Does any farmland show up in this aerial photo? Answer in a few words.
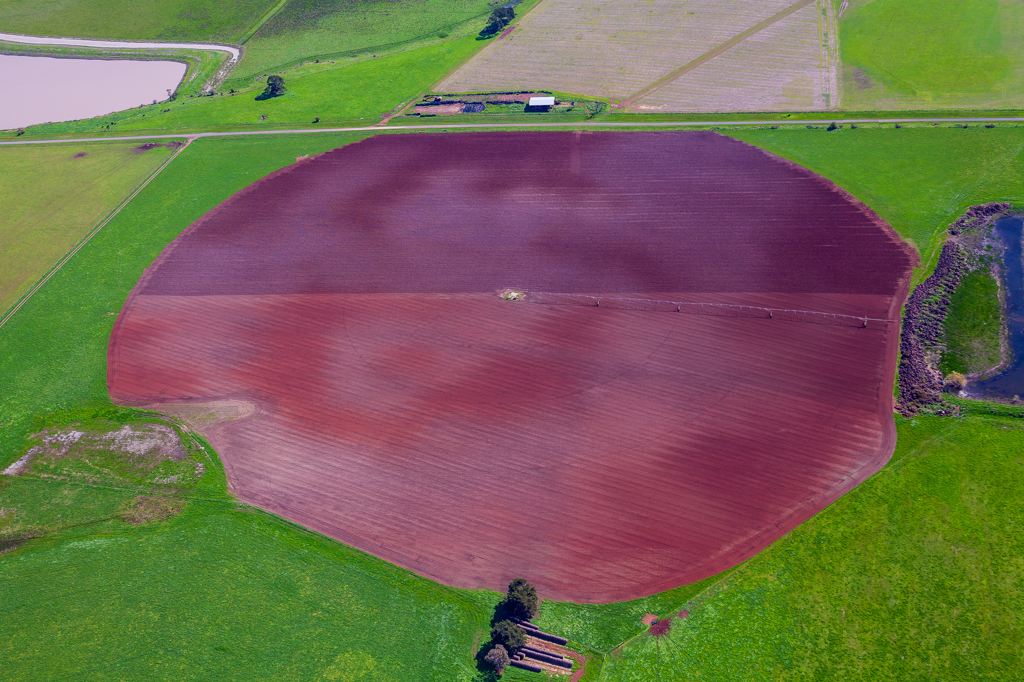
Yes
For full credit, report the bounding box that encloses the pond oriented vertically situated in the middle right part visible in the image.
[965,215,1024,398]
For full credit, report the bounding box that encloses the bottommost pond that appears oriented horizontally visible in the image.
[0,54,186,129]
